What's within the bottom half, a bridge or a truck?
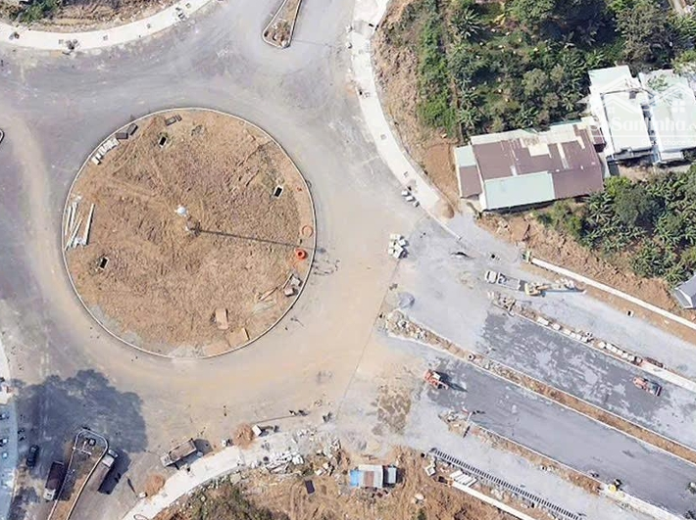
truck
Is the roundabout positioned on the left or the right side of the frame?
left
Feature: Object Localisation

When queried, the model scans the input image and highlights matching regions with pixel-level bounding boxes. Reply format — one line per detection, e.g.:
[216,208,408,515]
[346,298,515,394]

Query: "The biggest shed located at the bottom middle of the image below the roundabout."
[351,465,384,487]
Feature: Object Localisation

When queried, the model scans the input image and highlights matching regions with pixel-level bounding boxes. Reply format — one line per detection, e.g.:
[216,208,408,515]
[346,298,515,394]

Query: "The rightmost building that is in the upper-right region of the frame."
[635,66,696,160]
